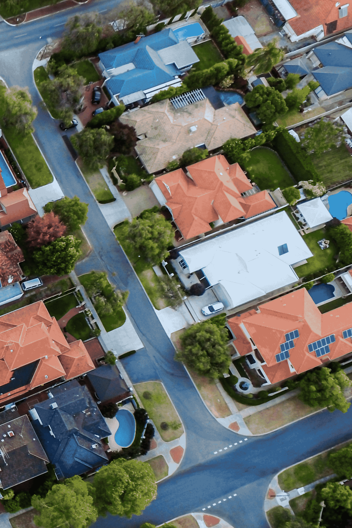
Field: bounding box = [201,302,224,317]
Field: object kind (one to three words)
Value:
car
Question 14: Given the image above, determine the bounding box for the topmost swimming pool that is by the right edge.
[327,188,352,219]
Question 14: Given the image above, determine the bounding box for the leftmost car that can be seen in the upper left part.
[57,118,79,132]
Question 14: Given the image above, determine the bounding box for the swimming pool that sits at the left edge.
[0,146,18,187]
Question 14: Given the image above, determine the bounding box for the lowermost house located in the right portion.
[225,285,352,386]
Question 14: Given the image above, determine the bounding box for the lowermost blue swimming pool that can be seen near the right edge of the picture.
[306,282,338,306]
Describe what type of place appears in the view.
residential area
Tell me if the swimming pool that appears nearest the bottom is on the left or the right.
left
